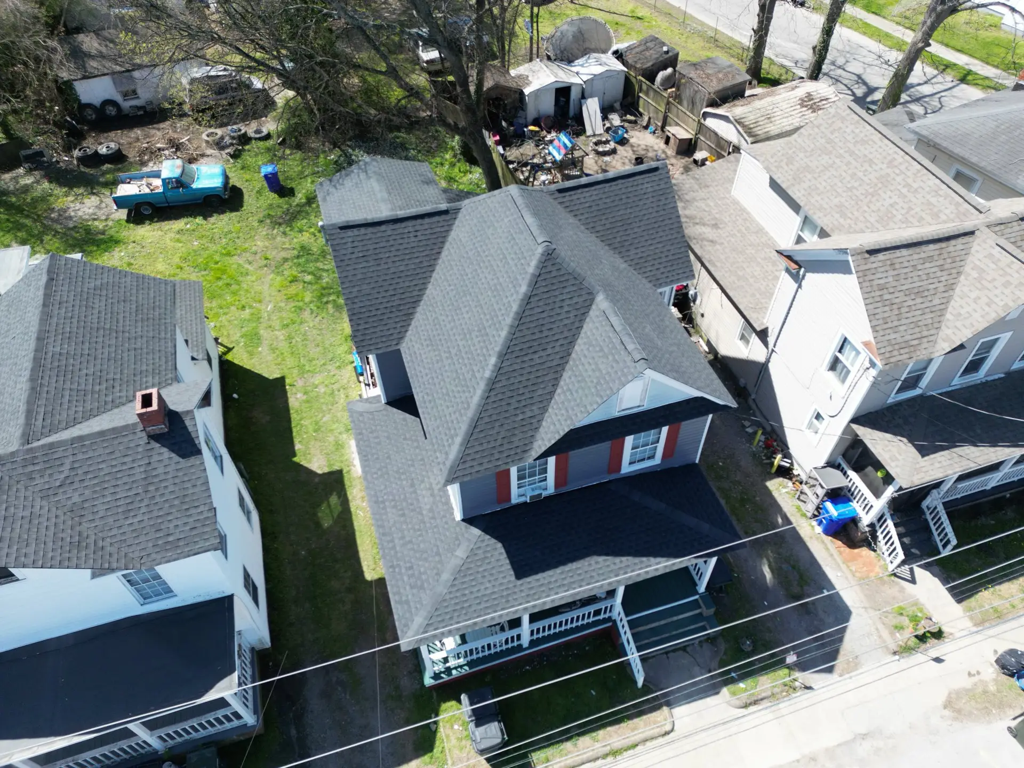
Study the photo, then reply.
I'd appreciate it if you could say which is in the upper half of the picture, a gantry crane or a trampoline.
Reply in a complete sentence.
The feature located in the upper half of the picture is a trampoline.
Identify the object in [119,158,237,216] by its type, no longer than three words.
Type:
truck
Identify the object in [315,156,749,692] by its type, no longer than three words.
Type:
house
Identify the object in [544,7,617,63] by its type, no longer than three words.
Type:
trampoline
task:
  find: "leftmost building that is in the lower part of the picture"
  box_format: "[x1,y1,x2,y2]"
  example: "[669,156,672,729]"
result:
[0,246,272,768]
